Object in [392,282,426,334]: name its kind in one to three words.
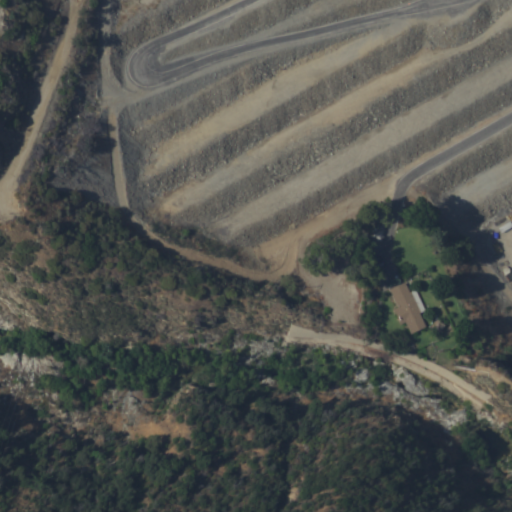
house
